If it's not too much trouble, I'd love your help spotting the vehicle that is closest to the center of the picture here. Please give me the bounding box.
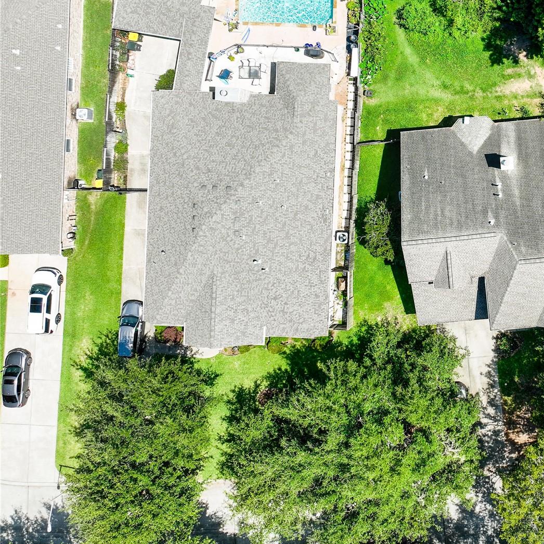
[114,295,149,360]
